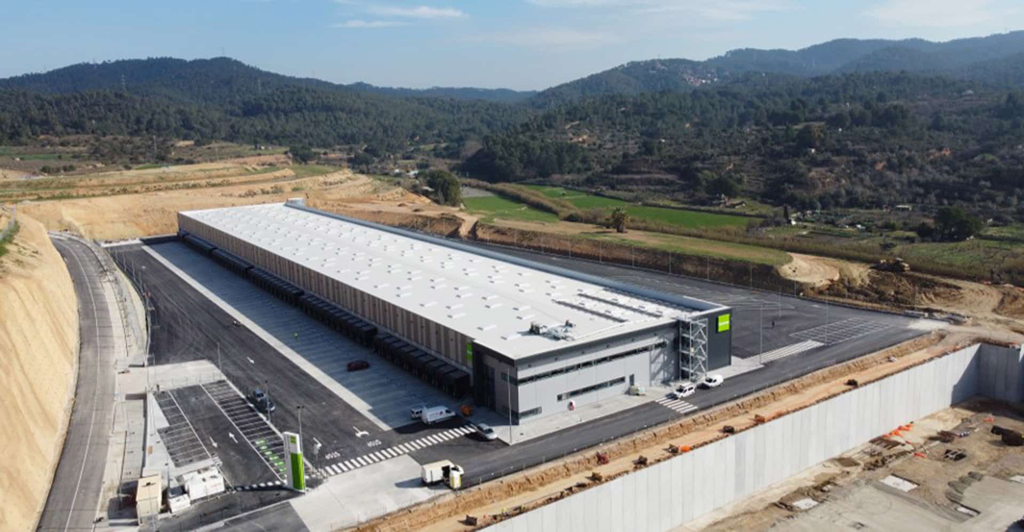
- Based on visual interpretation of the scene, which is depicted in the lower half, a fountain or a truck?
truck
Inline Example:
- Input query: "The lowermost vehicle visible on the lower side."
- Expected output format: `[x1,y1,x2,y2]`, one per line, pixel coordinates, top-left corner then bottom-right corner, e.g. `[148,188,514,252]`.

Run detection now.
[417,446,468,481]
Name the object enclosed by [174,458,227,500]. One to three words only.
building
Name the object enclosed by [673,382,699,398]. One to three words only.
vehicle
